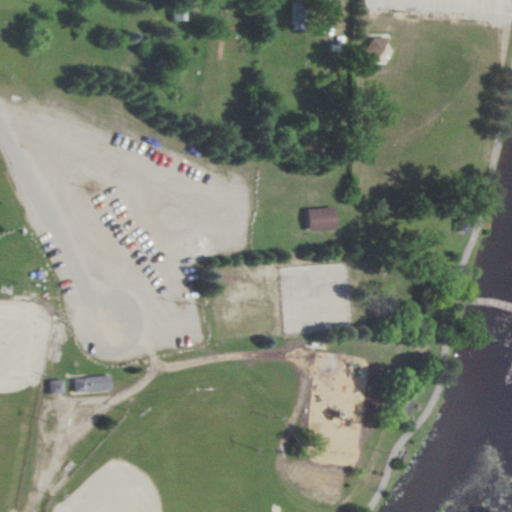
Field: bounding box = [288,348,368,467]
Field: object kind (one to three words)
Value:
playground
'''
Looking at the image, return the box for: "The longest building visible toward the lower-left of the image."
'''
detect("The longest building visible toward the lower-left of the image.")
[76,376,112,392]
